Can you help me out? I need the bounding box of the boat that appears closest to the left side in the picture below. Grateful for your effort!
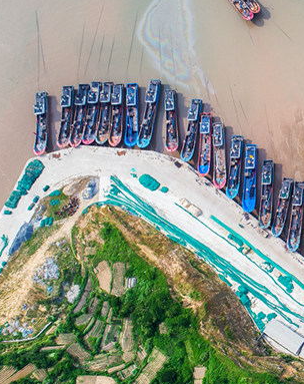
[33,91,49,156]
